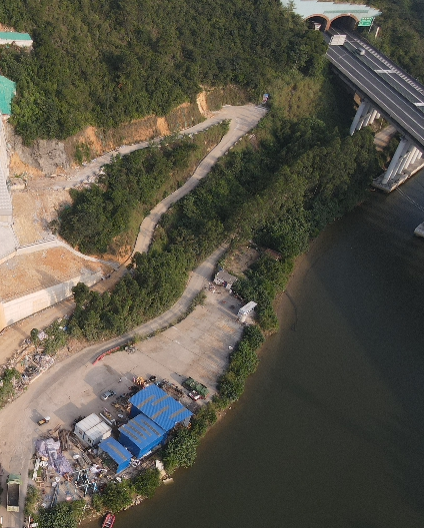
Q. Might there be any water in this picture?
Yes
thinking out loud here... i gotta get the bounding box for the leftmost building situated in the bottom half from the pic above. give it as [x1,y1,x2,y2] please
[76,413,110,448]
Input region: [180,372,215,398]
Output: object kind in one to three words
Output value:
truck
